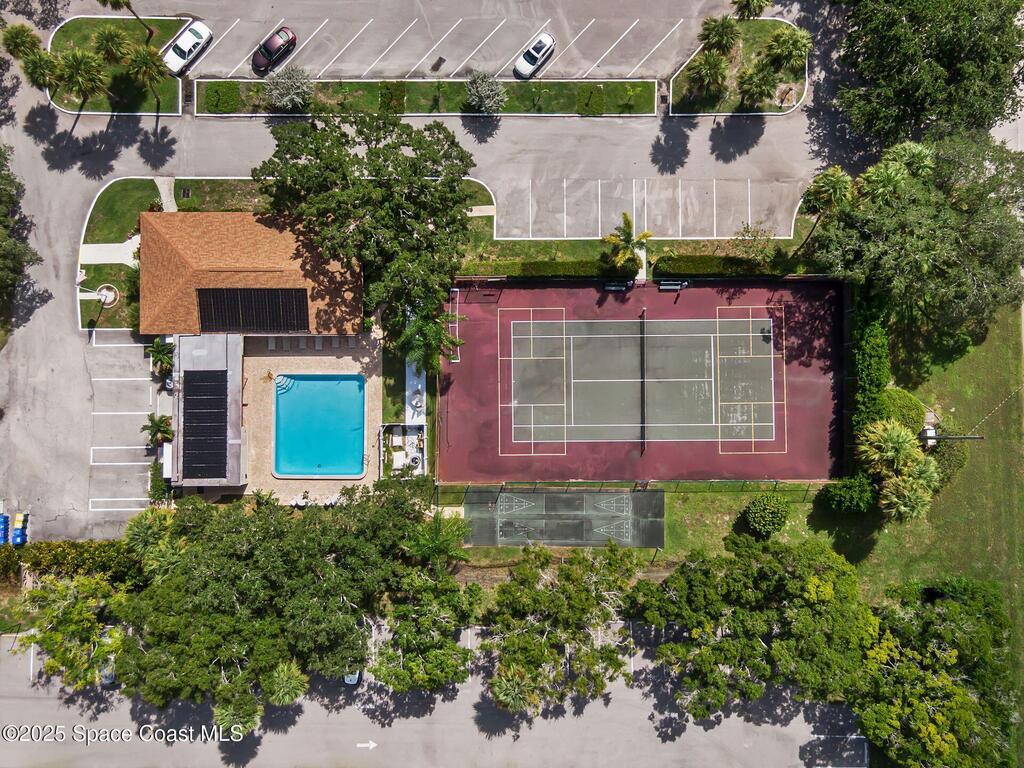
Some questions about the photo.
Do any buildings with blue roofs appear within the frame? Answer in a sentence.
No, the picture doesn't show any building with a blue roof.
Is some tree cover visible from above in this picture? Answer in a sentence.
Yes, tree cover can be seen from above here.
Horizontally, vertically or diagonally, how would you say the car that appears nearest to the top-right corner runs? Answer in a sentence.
Seen from above, the car that appears nearest to the top-right corner lies diagonally.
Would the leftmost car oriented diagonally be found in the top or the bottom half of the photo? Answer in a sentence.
It is in the top half that the leftmost car oriented diagonally appears.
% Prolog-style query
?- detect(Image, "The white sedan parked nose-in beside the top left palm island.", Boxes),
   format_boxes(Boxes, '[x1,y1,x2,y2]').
[165,19,213,75]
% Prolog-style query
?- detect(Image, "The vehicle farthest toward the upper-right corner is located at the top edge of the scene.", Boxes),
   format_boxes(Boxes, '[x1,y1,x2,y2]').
[514,31,555,80]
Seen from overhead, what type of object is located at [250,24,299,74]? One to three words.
car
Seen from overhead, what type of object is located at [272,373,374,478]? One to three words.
swimming pool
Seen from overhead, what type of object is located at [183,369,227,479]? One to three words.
solar panel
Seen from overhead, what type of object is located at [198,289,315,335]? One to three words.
solar panel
